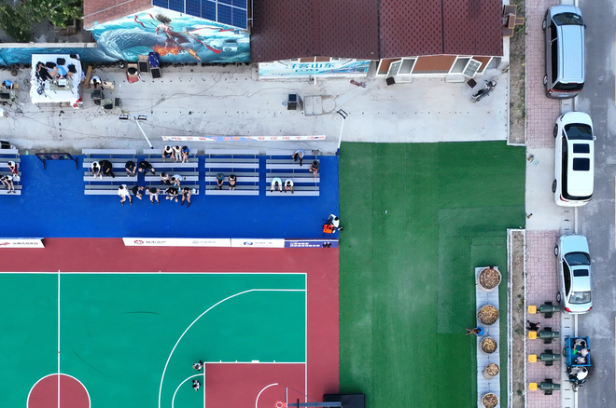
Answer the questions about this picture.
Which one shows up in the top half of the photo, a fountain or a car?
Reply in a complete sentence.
It is a car that can be seen in the top half of the photo.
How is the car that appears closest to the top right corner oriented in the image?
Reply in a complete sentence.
In this picture, the car that appears closest to the top right corner is oriented from top to bottom.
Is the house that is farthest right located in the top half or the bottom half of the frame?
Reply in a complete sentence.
The top half of the photo is where the house that is farthest right is.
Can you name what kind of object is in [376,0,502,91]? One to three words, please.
house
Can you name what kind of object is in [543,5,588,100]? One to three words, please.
car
